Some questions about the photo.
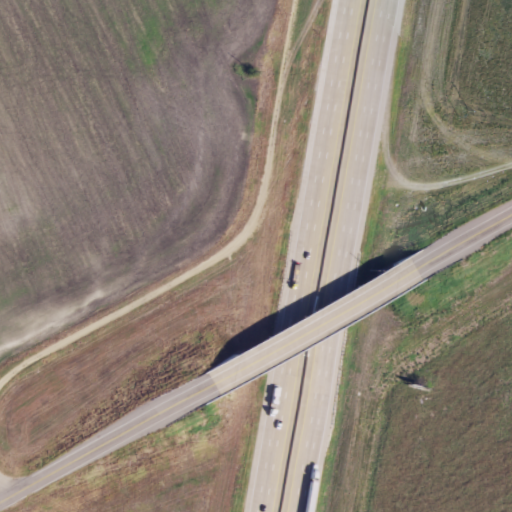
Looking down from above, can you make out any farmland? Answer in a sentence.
Yes, farmland shows up in the scene.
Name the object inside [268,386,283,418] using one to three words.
vehicle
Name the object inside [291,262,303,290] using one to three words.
vehicle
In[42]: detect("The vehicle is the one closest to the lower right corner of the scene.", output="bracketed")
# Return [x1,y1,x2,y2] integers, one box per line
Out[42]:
[306,463,320,510]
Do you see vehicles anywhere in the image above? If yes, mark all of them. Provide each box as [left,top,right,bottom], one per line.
[268,386,283,418]
[306,463,320,510]
[291,262,303,290]
[275,420,281,430]
[304,250,310,261]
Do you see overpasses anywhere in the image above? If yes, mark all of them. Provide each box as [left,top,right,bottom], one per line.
[204,250,429,406]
